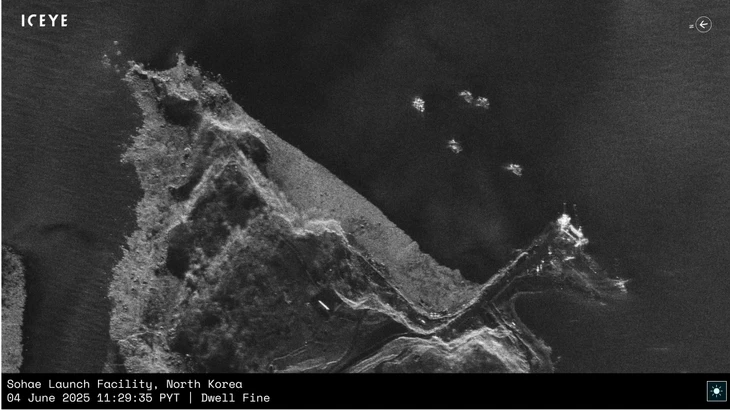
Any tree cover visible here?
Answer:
No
